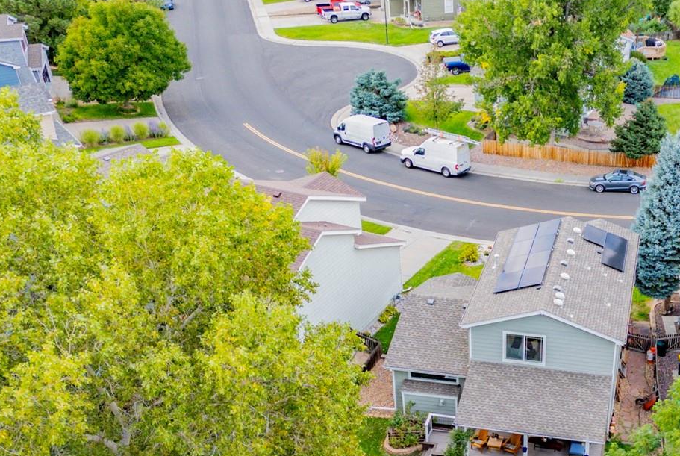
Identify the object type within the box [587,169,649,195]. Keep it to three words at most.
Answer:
car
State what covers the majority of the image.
trees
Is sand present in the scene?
No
